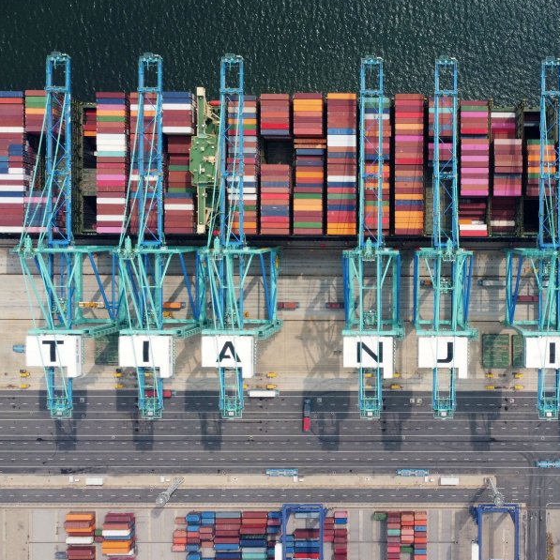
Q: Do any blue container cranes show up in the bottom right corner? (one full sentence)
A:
Yes, a blue container crane is visible in the bottom right corner.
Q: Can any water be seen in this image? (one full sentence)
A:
Yes, the picture does contain water.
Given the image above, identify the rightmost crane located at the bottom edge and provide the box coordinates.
[470,503,521,560]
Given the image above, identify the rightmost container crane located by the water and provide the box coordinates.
[499,55,560,419]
